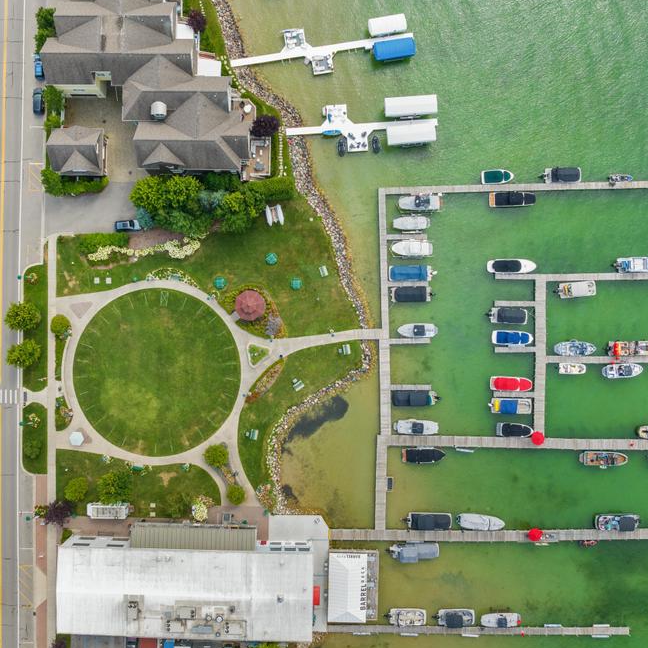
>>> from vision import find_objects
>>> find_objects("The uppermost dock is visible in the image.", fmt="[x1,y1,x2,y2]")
[230,28,415,77]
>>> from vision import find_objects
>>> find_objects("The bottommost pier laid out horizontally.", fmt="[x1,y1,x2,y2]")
[327,623,631,637]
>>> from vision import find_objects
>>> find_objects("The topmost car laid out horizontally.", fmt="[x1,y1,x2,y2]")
[114,219,142,232]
